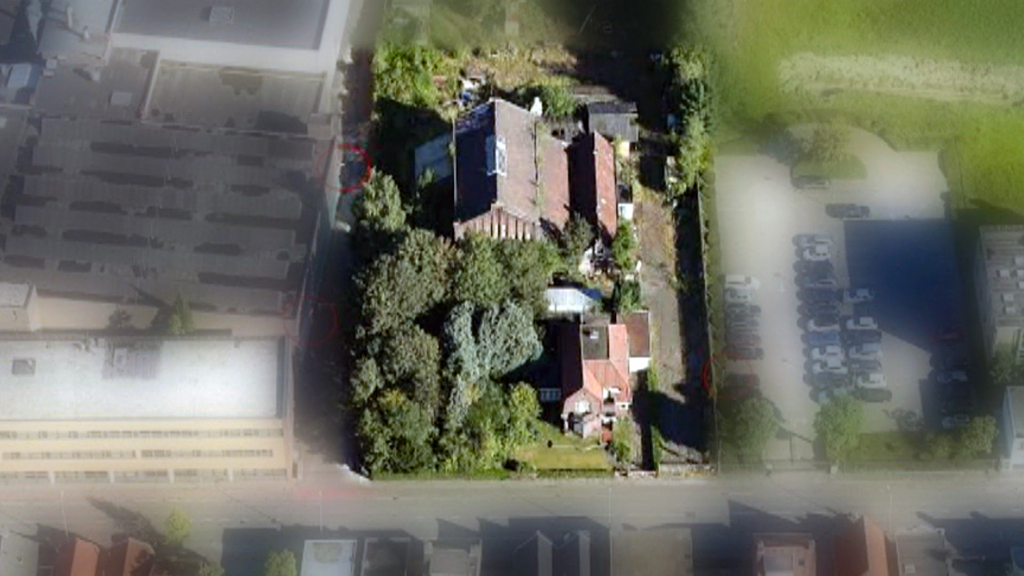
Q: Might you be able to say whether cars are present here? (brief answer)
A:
Yes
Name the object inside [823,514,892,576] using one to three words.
house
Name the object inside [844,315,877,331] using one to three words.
car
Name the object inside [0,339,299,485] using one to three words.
building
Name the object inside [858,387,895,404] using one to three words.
car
